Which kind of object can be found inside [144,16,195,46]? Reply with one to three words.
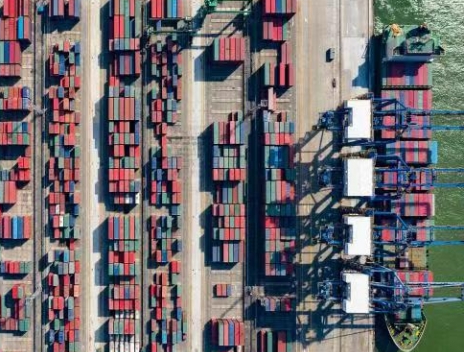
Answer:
container crane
